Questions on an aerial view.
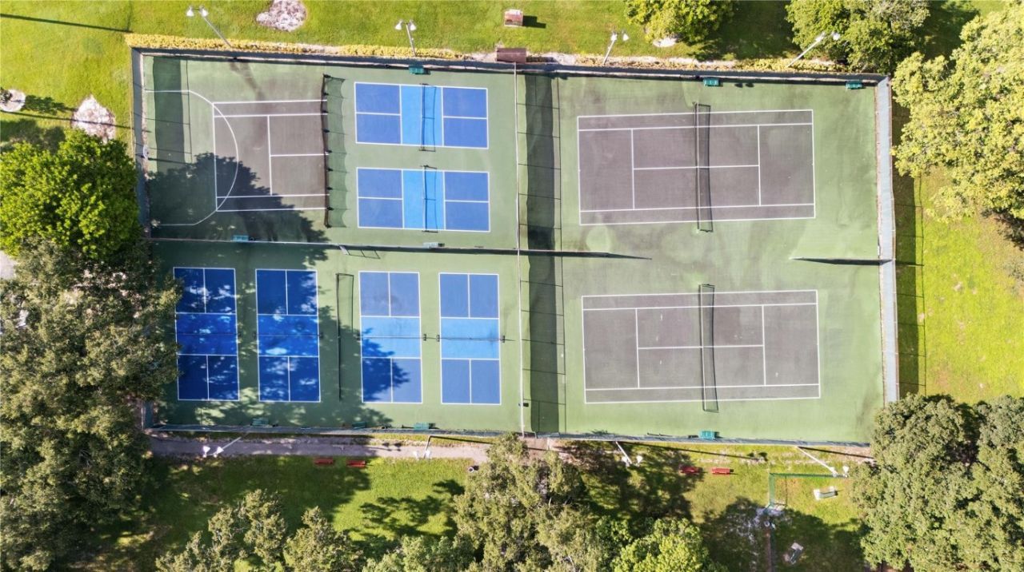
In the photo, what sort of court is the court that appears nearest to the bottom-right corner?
tennis court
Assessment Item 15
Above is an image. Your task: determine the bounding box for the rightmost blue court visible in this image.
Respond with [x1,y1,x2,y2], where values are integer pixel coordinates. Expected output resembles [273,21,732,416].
[439,273,501,405]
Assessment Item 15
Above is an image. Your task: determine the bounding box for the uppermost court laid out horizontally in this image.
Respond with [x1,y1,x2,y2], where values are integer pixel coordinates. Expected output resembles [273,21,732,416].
[355,82,489,149]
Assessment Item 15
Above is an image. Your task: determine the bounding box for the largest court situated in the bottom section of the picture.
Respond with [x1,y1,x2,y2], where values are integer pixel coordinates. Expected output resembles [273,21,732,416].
[582,290,821,403]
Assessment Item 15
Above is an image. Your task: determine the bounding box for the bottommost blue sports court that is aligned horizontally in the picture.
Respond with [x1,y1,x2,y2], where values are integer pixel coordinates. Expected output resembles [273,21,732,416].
[357,167,491,232]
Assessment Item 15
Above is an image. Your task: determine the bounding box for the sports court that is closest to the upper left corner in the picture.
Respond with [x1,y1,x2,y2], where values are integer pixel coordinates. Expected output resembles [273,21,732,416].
[146,90,327,225]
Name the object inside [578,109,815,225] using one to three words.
tennis court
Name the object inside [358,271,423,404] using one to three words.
sports court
